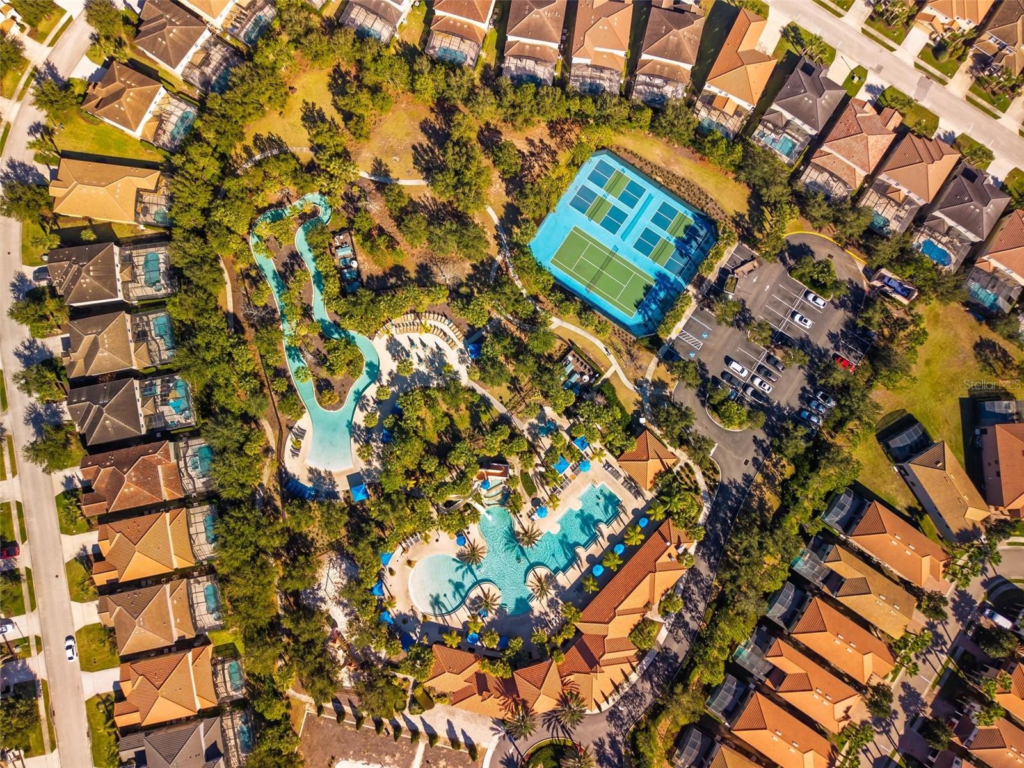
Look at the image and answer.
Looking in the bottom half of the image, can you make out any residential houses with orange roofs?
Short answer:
Yes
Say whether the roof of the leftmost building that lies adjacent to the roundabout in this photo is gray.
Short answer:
No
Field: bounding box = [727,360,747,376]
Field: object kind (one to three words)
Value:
car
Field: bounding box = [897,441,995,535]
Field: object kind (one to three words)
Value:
house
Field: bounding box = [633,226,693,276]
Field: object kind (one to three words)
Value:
sports court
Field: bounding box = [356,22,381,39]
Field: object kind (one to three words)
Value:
swimming pool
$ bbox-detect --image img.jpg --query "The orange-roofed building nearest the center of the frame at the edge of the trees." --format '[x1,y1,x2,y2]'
[617,430,679,492]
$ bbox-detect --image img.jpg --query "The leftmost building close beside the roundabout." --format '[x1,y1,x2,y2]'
[422,517,700,722]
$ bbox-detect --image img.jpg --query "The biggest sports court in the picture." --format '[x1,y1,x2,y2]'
[530,154,716,335]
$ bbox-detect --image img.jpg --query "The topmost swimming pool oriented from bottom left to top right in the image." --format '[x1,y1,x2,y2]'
[246,15,271,41]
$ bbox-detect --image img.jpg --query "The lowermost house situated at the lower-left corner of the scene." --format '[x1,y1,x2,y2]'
[118,715,234,768]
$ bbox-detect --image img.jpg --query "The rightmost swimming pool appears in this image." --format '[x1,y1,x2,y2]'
[969,283,999,307]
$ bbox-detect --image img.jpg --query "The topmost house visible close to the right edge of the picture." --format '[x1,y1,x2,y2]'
[911,0,988,47]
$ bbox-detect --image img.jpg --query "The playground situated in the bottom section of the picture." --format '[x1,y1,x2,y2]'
[321,629,363,673]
